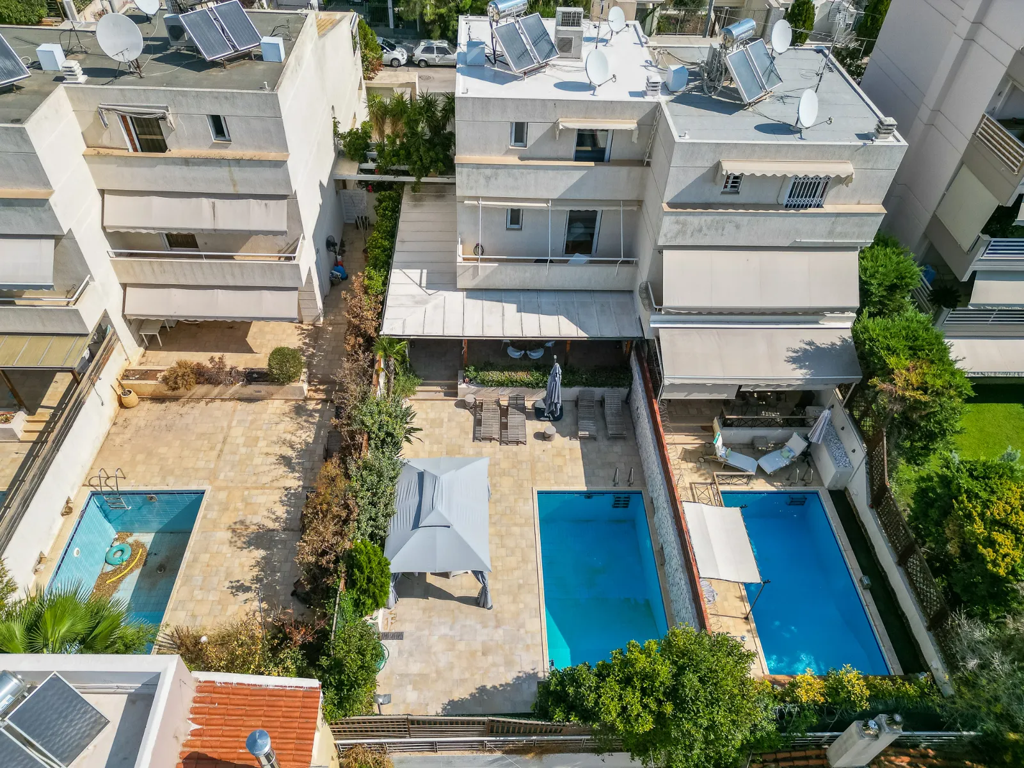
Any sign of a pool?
Yes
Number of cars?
2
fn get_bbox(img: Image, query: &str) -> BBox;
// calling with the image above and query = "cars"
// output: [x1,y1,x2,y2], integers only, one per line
[374,34,406,66]
[412,37,458,67]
